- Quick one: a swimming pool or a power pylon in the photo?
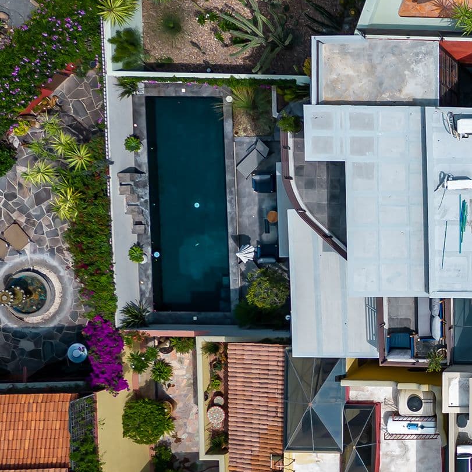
swimming pool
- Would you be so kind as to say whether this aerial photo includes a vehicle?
No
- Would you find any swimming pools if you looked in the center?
Yes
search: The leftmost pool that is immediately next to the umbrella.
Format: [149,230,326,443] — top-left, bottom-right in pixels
[147,97,229,312]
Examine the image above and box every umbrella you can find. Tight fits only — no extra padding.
[235,241,262,259]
